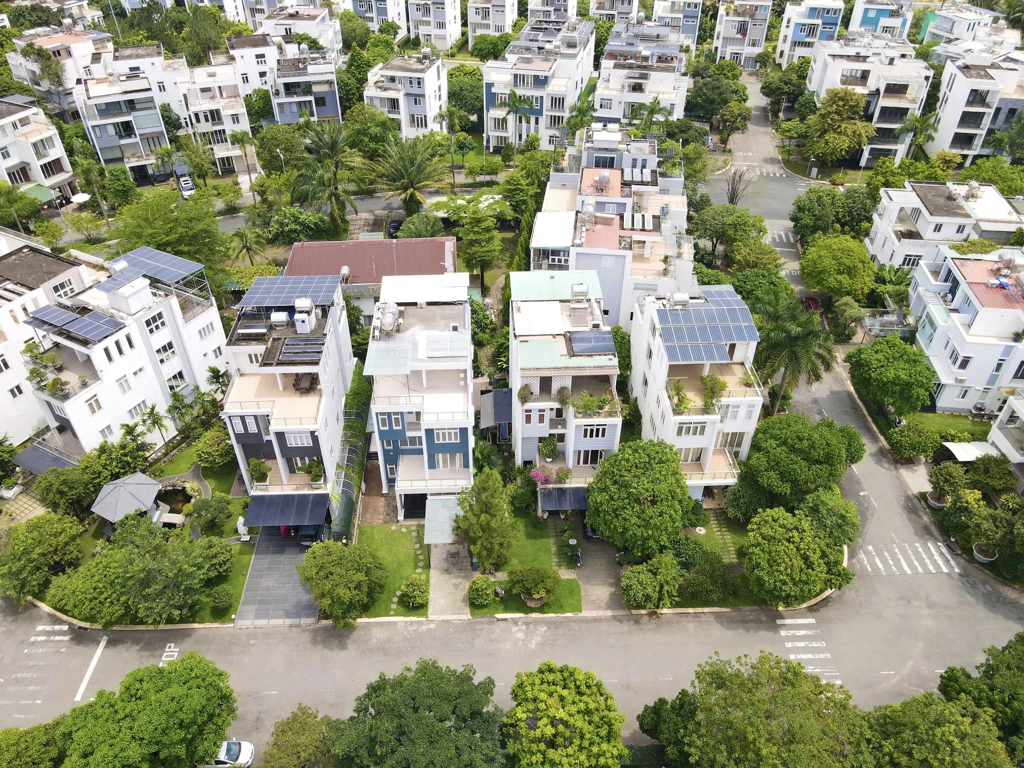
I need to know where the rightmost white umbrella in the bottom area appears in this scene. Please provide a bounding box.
[235,514,250,541]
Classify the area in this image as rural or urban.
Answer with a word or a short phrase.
urban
